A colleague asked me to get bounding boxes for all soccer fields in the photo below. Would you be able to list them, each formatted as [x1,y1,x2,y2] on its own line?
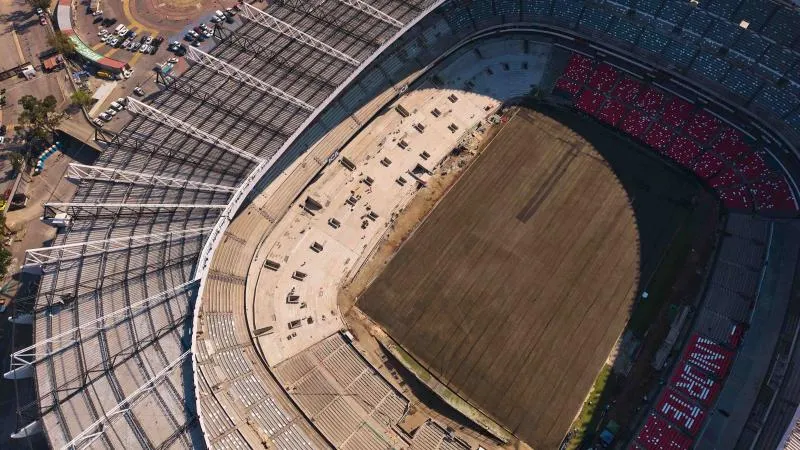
[355,107,697,450]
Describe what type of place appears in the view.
sports ground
